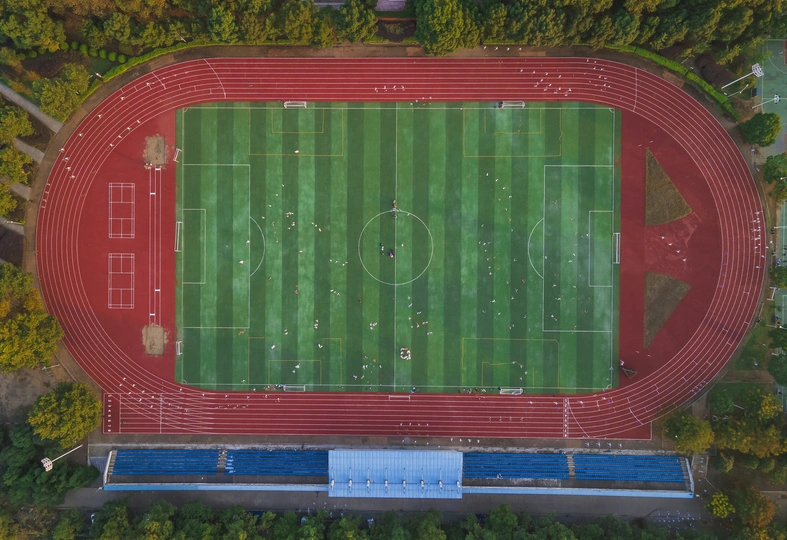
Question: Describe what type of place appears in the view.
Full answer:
The picture captures a sports ground.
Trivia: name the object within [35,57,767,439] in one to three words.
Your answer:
running track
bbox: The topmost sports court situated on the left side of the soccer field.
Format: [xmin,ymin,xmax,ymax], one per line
[108,182,134,239]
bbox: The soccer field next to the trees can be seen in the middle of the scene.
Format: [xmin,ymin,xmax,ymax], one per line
[174,102,622,394]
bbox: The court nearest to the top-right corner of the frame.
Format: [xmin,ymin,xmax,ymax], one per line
[756,38,787,148]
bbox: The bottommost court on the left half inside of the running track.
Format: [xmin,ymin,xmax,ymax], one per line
[108,253,134,310]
